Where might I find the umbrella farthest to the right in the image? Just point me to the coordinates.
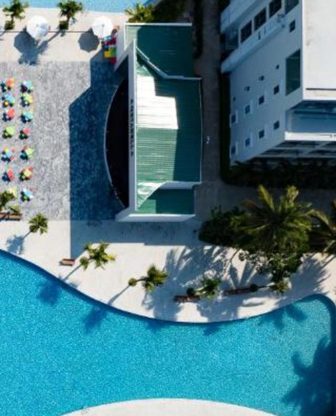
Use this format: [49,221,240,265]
[93,17,114,38]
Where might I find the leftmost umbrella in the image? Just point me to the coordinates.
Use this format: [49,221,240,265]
[27,18,48,39]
